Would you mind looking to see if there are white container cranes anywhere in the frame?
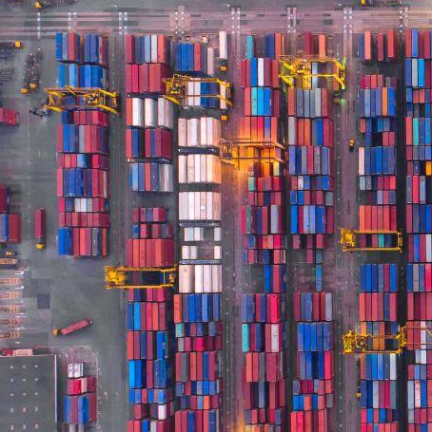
No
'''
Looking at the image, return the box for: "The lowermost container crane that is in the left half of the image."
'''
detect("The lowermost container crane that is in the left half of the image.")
[110,264,183,289]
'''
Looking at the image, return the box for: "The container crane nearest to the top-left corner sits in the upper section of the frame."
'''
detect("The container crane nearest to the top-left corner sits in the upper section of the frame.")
[41,86,118,117]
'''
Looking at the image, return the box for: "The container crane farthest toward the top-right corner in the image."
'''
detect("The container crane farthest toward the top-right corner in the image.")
[276,56,345,88]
